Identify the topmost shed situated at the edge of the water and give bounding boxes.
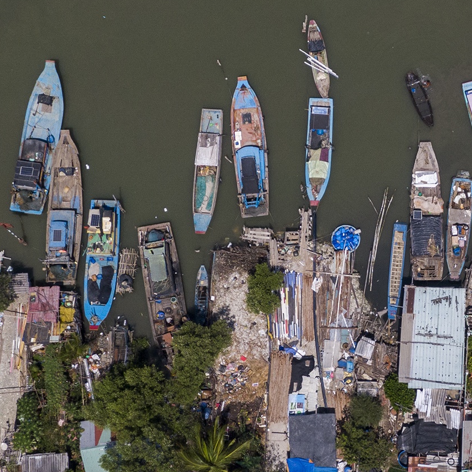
[27,286,73,322]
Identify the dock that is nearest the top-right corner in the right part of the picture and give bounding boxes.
[298,210,313,250]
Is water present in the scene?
Yes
